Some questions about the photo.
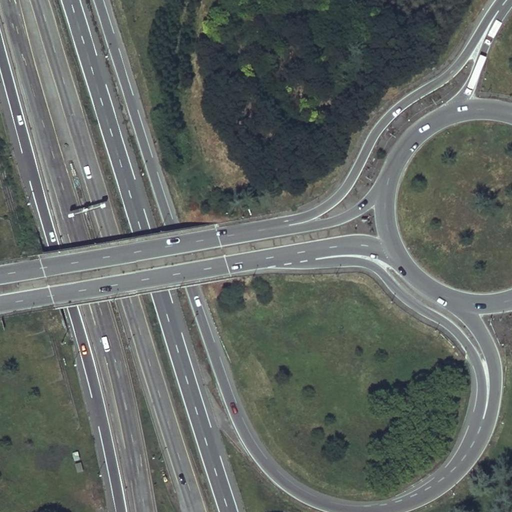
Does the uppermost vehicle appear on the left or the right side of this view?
right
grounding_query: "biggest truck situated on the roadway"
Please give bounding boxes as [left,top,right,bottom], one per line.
[464,54,487,96]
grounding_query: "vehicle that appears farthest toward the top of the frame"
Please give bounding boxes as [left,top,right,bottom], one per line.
[484,18,504,46]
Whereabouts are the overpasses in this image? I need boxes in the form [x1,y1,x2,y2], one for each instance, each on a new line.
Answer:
[36,225,232,331]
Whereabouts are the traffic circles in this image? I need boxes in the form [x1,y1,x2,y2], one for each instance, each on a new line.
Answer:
[374,98,512,318]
